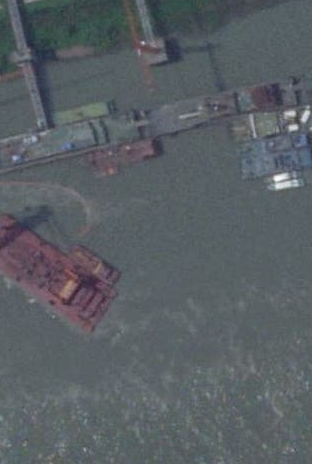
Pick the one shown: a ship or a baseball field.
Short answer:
ship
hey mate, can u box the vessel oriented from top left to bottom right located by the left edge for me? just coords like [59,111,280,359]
[0,216,119,332]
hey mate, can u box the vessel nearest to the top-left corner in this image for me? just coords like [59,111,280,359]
[54,101,114,126]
